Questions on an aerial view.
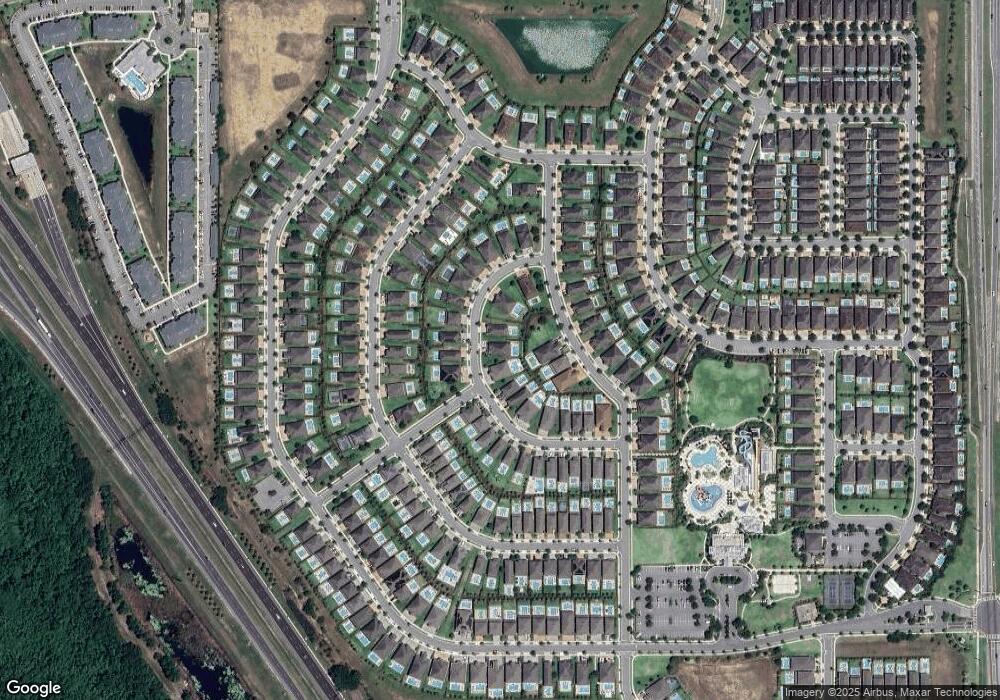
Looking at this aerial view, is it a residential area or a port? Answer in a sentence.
The area seen from above is a residential area.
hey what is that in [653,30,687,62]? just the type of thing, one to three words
house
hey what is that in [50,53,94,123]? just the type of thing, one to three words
building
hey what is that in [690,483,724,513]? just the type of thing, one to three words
swimming pool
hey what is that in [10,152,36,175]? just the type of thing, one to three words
toll station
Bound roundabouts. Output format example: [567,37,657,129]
[152,24,184,56]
